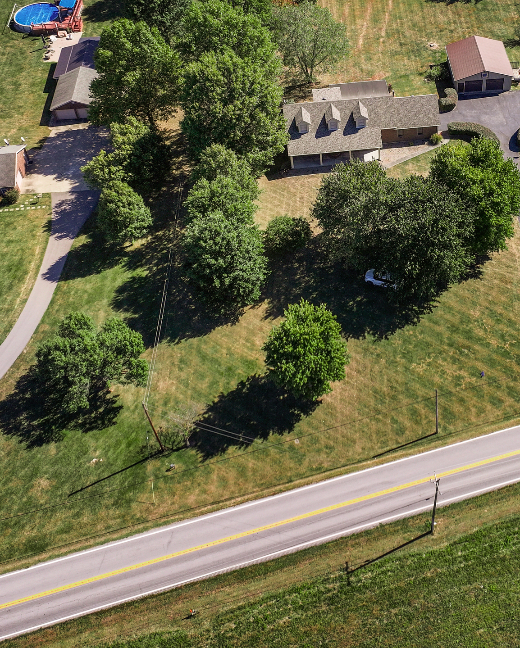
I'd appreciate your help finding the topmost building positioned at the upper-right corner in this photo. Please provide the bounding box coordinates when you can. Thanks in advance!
[445,35,515,96]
